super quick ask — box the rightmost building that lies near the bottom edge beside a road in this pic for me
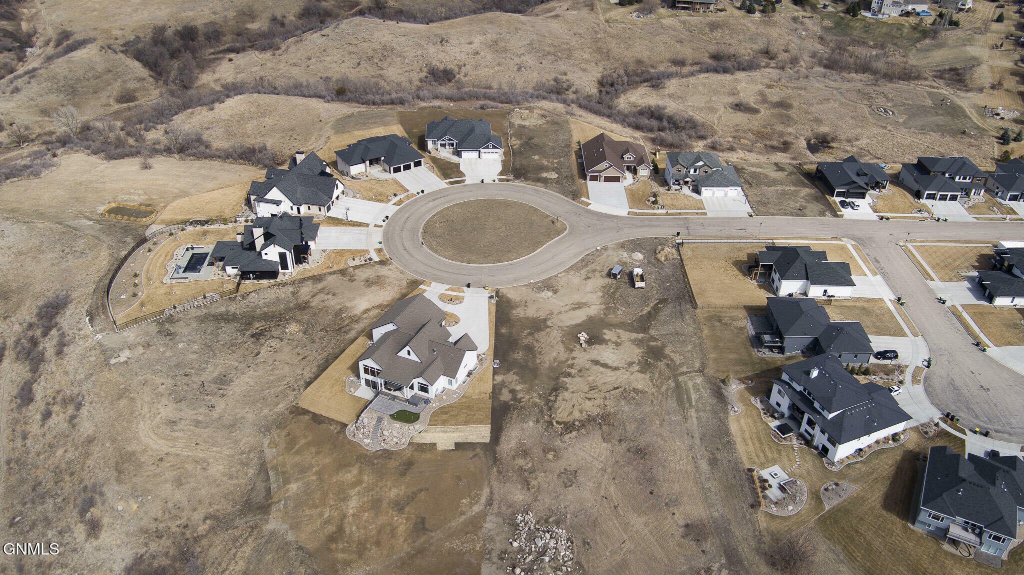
[913,439,1024,562]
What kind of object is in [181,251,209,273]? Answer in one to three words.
swimming pool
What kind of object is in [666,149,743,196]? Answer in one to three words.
house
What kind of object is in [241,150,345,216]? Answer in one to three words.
house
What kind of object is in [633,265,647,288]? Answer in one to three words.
vehicle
